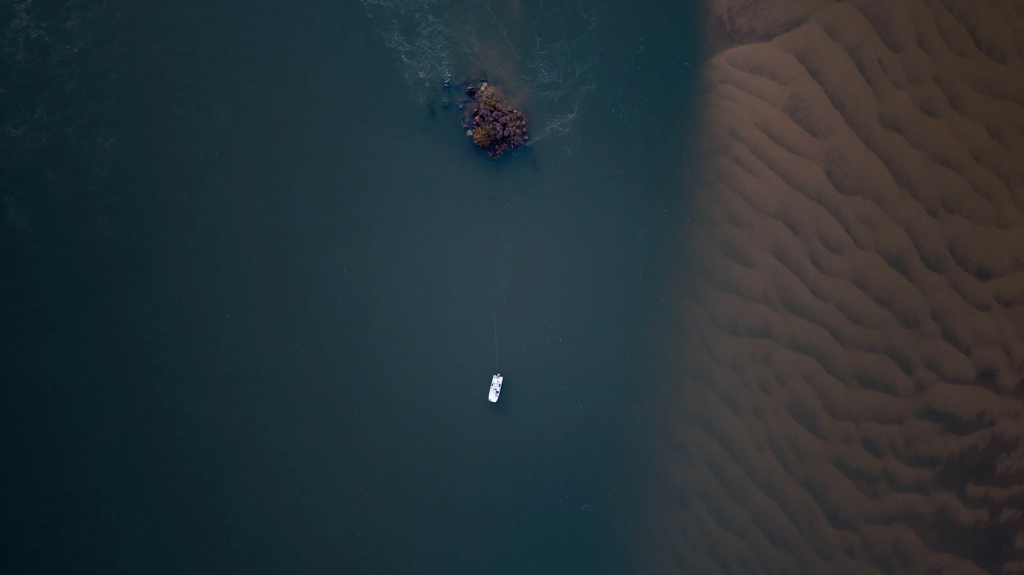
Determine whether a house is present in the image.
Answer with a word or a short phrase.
No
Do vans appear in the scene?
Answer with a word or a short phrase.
No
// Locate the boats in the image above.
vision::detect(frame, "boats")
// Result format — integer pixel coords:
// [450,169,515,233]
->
[489,374,503,403]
